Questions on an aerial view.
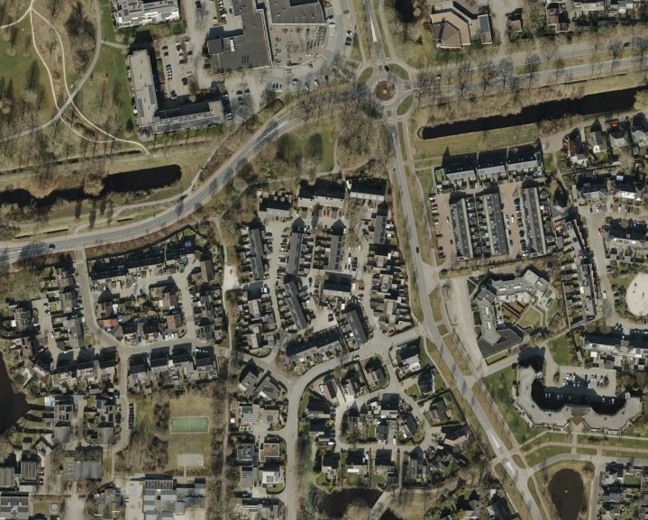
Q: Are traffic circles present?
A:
Yes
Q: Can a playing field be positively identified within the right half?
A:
No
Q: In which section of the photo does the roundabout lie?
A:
top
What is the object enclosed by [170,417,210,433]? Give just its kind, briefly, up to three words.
soccer field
